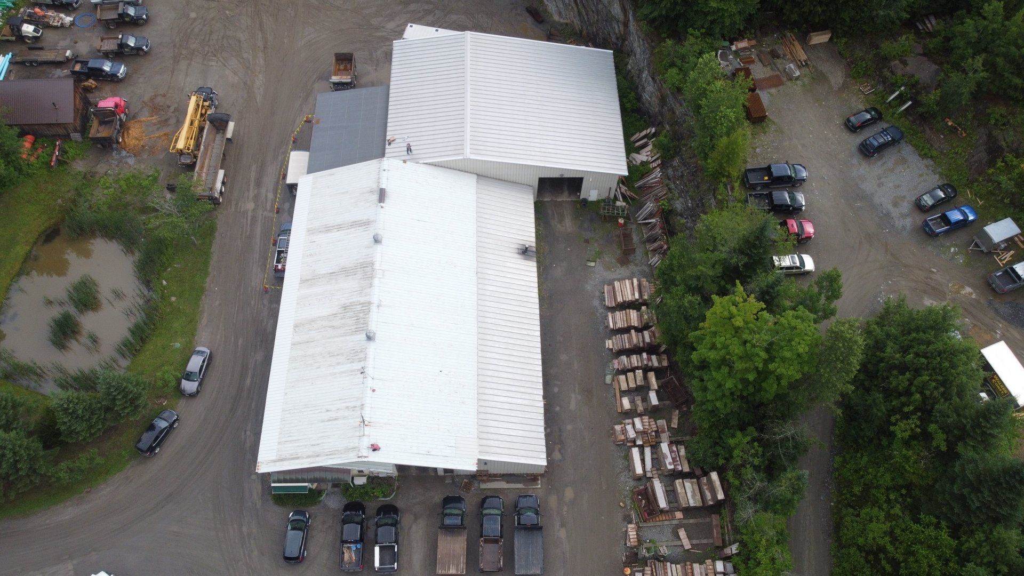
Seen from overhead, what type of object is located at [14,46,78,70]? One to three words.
trailer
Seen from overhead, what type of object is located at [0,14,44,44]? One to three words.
work vehicle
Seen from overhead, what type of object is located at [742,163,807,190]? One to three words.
truck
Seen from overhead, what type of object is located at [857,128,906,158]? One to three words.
car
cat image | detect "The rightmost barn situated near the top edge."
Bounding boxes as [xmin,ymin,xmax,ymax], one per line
[385,28,629,202]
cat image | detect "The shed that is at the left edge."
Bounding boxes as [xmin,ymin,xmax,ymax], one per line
[0,79,85,136]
